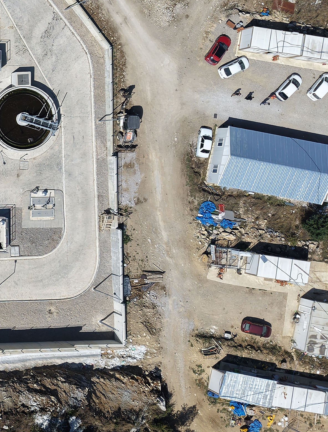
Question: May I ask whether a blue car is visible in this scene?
No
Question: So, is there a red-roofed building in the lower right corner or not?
No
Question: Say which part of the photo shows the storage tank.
top left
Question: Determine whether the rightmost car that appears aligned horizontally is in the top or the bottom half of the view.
bottom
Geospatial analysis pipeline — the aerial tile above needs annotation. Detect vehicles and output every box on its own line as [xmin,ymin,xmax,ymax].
[270,70,306,105]
[300,71,328,105]
[119,91,148,153]
[193,124,215,160]
[212,53,252,81]
[201,30,232,68]
[234,316,275,339]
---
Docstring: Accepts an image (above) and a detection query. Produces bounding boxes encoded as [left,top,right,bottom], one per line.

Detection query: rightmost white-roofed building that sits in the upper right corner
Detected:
[289,34,328,64]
